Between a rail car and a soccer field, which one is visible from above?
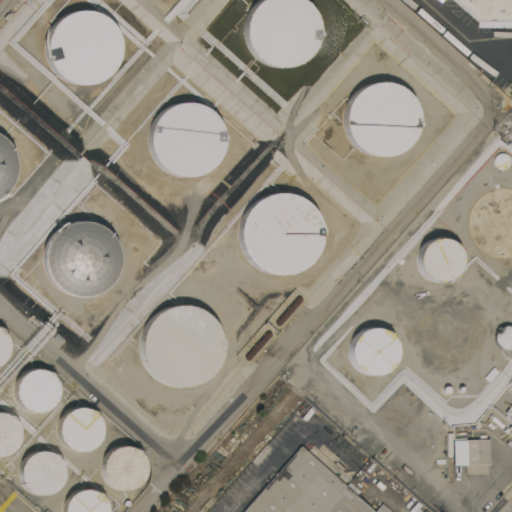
rail car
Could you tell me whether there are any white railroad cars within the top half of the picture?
Yes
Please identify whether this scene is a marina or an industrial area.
industrial area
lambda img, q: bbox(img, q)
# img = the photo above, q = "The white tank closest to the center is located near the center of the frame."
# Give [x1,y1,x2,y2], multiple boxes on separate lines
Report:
[239,194,326,276]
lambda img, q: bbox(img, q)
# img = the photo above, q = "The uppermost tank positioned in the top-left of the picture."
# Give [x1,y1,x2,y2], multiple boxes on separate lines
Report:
[43,10,125,88]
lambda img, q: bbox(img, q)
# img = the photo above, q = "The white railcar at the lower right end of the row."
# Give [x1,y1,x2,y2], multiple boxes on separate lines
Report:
[468,54,498,79]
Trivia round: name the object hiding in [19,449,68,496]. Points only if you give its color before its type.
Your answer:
white storage tank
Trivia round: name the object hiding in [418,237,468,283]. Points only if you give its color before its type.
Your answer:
white storage tank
